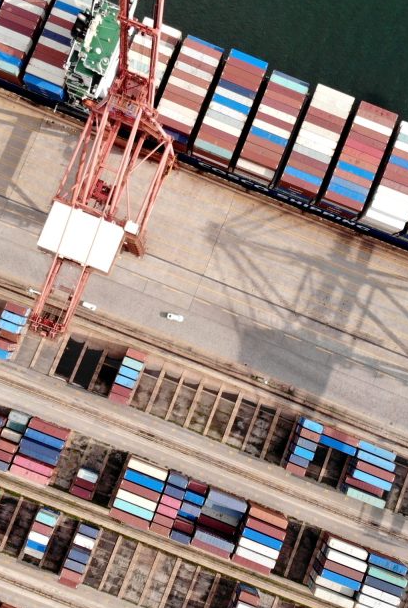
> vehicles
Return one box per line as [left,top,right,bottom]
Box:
[81,301,97,313]
[167,312,184,323]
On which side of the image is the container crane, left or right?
left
